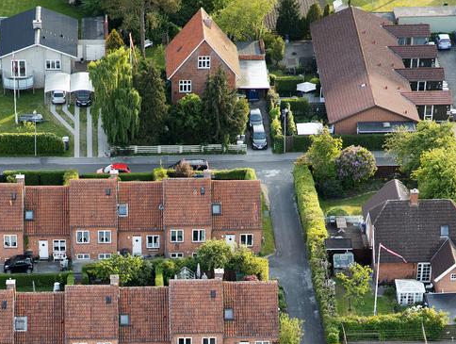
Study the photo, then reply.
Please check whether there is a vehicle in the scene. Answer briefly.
Yes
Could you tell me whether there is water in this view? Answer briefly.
No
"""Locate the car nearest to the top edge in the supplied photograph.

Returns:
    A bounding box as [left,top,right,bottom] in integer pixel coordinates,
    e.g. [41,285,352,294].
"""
[436,33,453,52]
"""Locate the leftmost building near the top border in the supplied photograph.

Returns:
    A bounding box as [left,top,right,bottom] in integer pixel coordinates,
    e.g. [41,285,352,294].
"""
[0,2,75,95]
